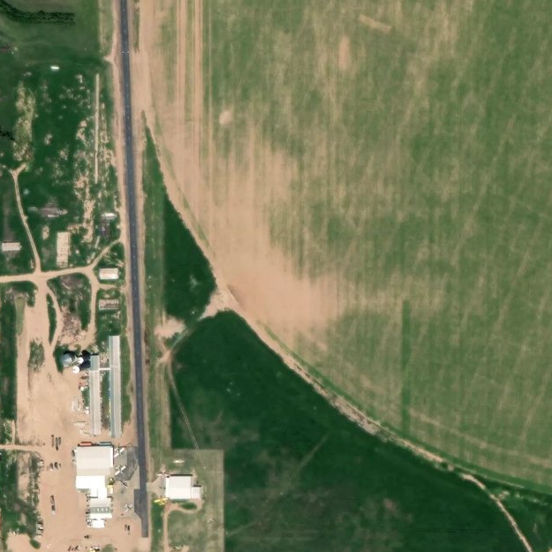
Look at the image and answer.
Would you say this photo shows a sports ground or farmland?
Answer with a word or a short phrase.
farmland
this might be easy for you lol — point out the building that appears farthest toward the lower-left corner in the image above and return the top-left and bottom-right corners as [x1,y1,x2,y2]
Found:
[76,447,114,529]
